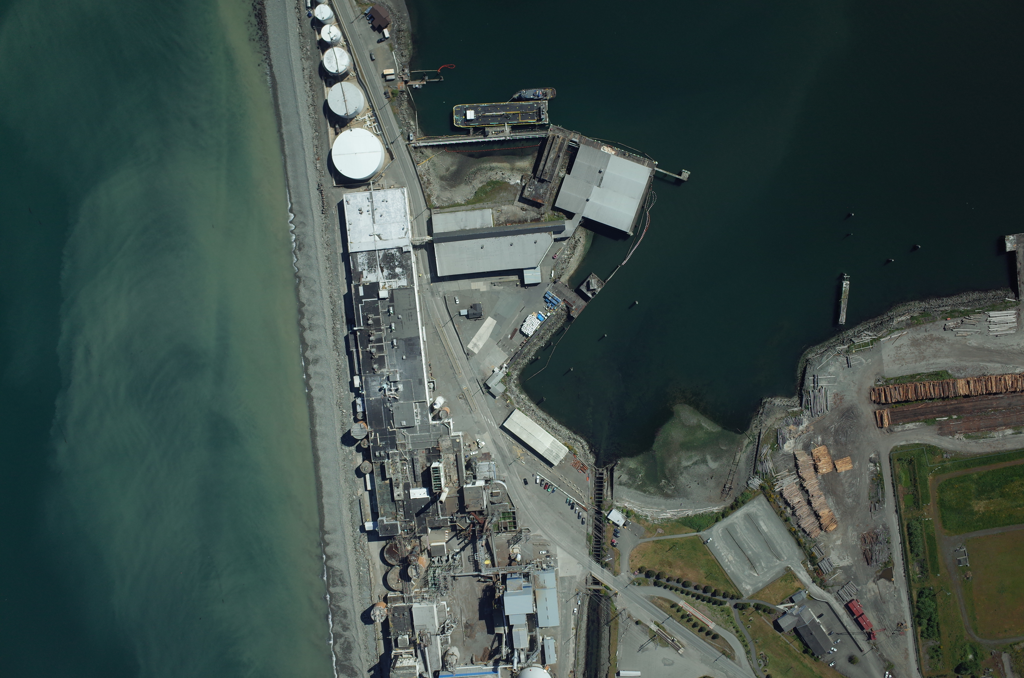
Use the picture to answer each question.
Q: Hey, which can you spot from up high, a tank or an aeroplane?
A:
tank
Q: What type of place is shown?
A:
port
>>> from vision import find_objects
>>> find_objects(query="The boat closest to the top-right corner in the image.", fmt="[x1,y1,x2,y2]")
[513,87,556,101]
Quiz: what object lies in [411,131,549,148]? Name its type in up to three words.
pier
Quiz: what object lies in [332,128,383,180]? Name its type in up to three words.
storage tank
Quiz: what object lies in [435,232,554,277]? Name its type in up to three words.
building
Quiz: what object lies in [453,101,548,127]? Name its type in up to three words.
ship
